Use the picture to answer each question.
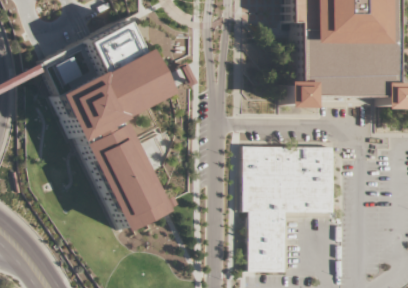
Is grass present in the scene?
Yes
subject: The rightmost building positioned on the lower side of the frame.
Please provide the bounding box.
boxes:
[240,146,334,272]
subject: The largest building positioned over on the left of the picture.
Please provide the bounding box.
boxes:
[45,21,180,230]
